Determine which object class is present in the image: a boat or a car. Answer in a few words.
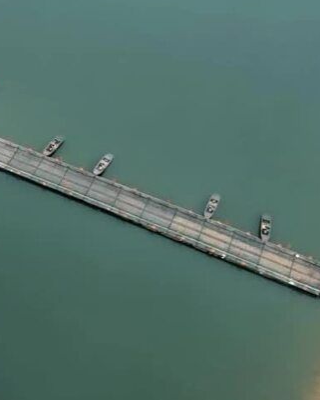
boat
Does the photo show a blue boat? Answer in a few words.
No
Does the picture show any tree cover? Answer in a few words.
No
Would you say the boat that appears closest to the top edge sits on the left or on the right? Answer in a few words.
left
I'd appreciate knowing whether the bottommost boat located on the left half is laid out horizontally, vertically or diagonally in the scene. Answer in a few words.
diagonally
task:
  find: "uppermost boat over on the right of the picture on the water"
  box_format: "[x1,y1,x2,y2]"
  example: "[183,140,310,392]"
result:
[204,193,221,219]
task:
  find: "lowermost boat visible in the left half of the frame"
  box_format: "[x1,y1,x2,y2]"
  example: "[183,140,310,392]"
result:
[93,154,114,178]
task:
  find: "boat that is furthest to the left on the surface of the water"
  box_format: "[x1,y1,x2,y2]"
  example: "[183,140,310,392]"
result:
[45,136,65,156]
